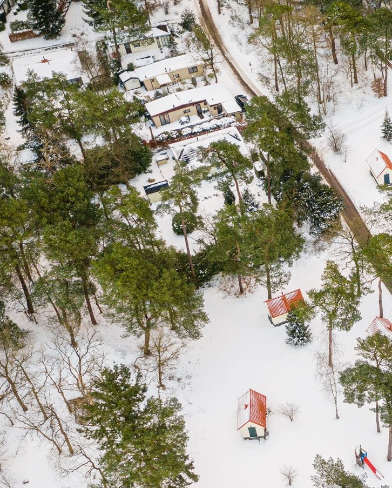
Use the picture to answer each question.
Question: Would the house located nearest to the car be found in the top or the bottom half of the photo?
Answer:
top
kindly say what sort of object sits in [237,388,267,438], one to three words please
building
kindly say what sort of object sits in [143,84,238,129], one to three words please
house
